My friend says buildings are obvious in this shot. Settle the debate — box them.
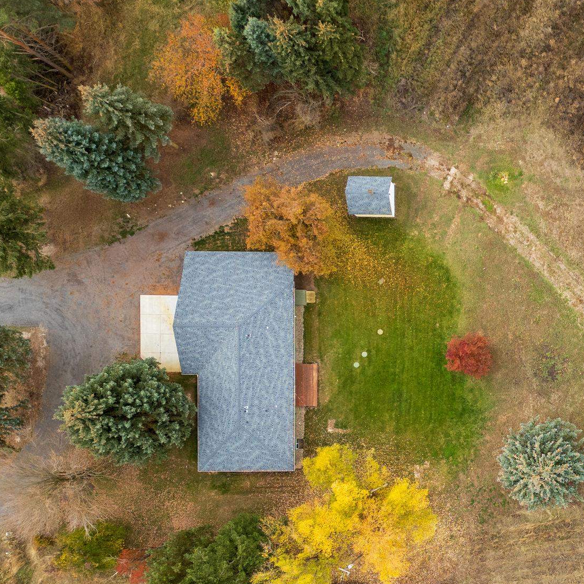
[346,177,396,217]
[173,251,296,473]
